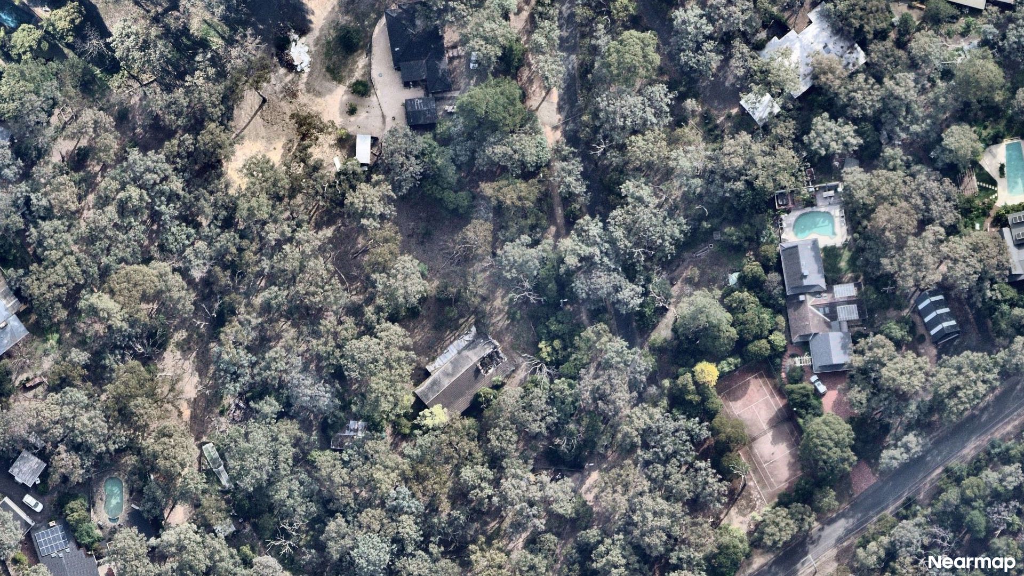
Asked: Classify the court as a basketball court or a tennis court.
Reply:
tennis court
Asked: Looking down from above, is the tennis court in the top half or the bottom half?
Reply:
bottom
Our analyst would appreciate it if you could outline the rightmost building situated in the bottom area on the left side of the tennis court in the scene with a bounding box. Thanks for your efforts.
[416,326,516,415]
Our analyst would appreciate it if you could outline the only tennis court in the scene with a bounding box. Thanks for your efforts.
[705,359,829,508]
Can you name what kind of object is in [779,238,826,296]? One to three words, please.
building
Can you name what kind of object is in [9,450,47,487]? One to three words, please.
shed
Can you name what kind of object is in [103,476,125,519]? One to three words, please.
swimming pool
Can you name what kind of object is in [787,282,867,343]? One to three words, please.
house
